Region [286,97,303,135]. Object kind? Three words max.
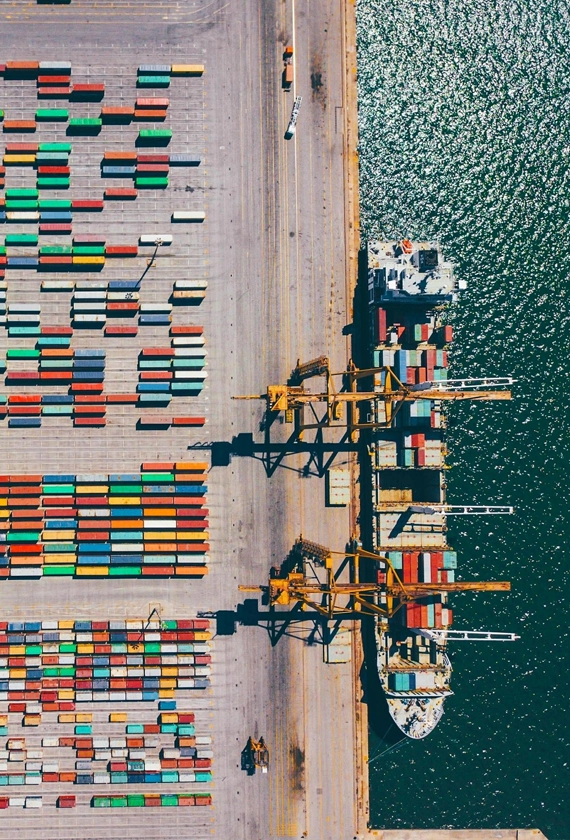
vehicle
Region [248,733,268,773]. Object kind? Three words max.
work vehicle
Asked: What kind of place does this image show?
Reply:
port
